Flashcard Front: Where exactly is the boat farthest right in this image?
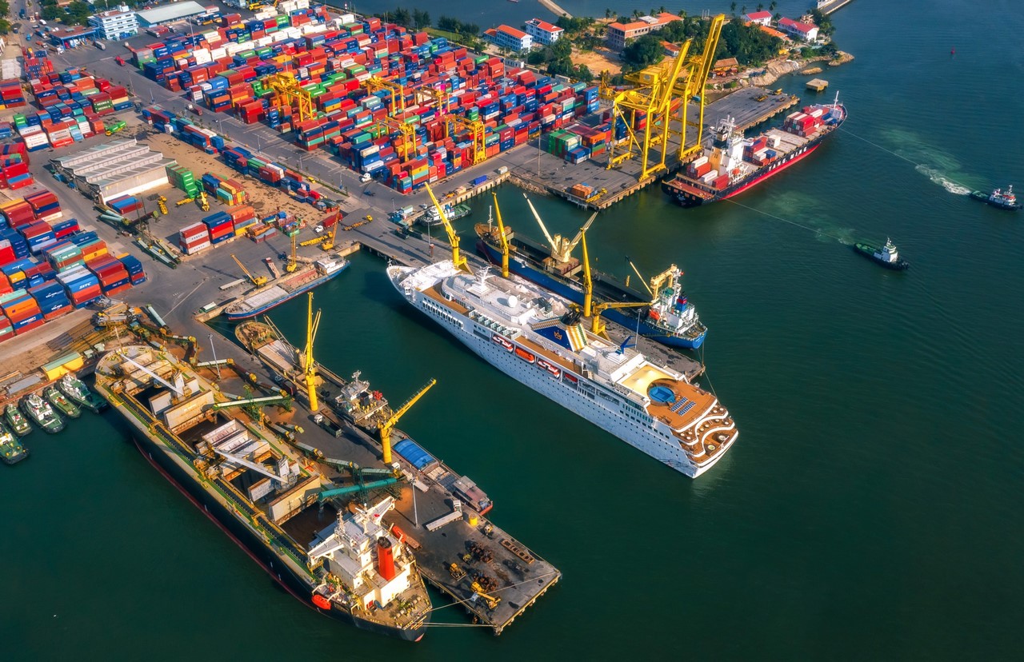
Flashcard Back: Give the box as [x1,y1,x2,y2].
[970,181,1024,209]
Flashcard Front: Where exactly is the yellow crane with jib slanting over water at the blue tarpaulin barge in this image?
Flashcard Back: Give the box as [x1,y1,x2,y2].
[375,377,439,466]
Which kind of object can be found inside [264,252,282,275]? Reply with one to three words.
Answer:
vehicle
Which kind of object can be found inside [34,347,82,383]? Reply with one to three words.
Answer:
shed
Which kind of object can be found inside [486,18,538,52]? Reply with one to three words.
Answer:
house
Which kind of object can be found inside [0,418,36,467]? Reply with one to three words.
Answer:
boat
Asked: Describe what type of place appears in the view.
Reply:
port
